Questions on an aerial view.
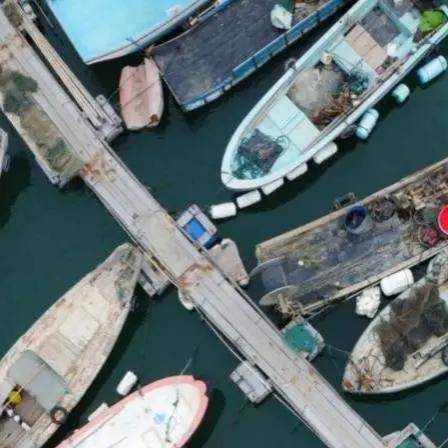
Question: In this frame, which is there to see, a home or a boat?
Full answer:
Looking from above, you can make out a boat.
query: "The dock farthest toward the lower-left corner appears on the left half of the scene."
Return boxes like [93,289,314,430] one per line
[140,255,173,297]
